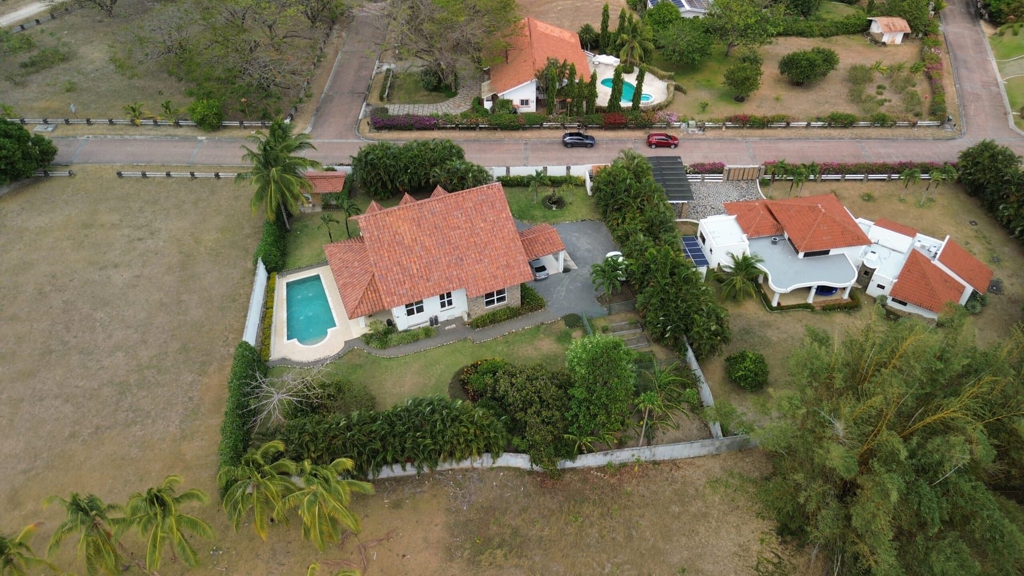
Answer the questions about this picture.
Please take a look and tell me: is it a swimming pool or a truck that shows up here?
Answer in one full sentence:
The image shows a swimming pool.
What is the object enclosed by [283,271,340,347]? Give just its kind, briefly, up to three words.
swimming pool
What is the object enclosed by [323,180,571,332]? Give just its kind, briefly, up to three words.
house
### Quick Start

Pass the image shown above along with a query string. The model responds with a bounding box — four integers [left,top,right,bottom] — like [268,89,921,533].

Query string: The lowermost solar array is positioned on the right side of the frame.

[674,236,709,280]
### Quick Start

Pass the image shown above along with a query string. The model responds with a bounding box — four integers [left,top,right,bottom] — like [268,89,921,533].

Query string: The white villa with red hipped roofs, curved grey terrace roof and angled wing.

[696,192,993,329]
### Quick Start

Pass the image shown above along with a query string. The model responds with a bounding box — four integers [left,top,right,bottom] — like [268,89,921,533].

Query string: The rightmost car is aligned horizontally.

[646,133,680,149]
